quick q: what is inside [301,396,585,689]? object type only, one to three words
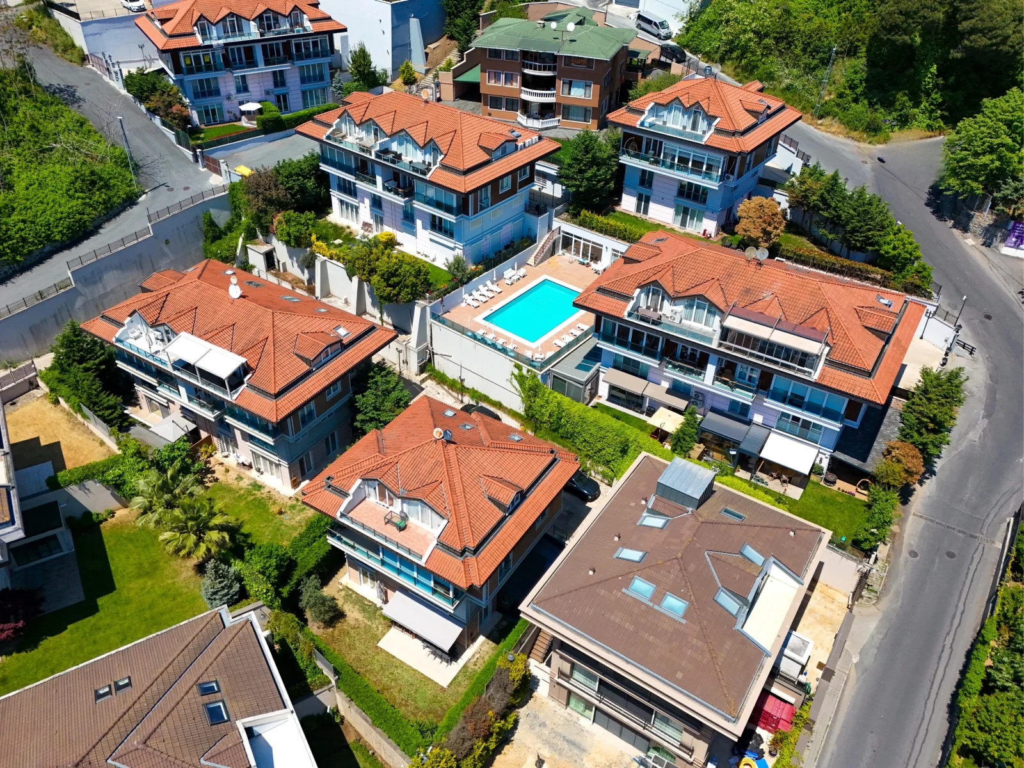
house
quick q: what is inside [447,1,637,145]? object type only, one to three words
house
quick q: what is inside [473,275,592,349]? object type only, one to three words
swimming pool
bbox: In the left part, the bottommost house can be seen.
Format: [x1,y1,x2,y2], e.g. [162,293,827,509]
[0,599,323,768]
